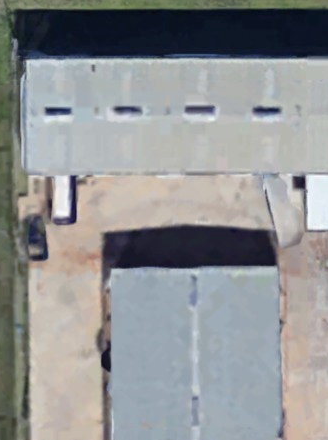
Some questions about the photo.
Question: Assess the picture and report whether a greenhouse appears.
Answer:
No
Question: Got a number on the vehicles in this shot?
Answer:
2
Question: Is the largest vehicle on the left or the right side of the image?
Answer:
left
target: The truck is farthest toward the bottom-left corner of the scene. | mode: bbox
[25,217,48,260]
